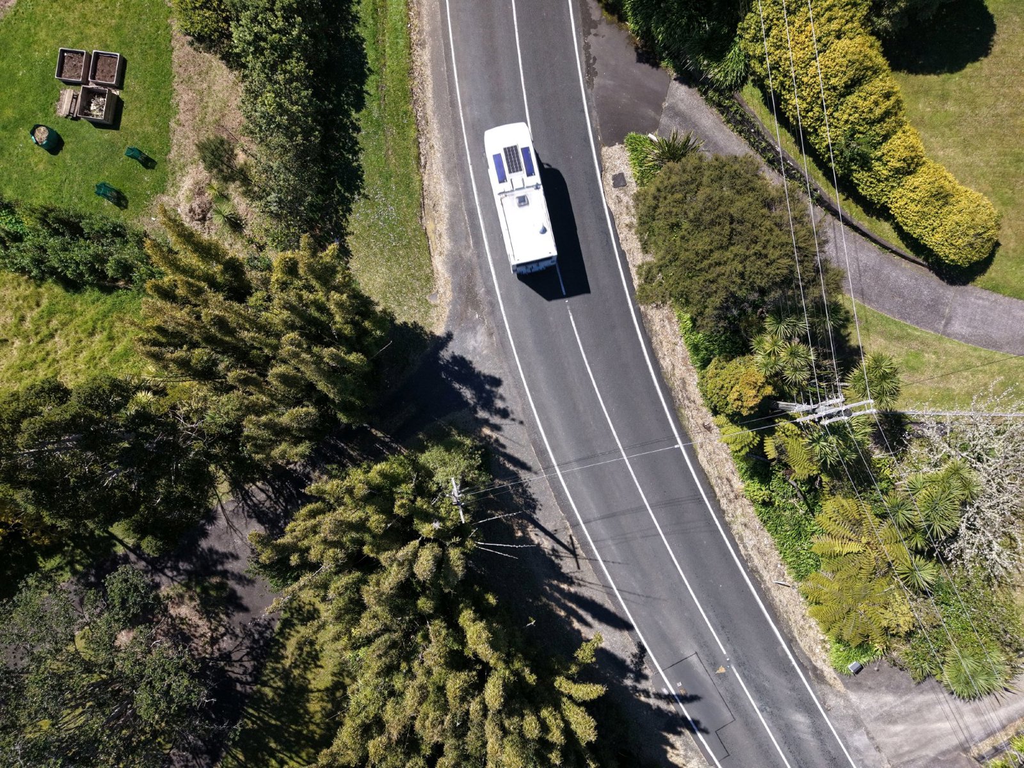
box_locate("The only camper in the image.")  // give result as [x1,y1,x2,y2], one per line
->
[488,122,559,280]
